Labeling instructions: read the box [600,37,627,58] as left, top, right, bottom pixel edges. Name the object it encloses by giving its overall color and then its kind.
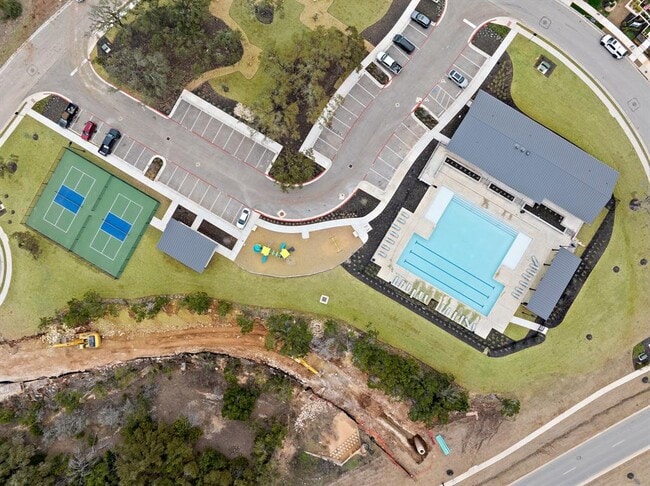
white car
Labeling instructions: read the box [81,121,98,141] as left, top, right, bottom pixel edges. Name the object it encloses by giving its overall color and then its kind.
red car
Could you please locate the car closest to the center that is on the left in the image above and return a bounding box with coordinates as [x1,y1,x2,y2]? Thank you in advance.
[236,207,252,230]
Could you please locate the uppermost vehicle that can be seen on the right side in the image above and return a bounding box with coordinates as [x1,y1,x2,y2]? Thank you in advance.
[409,11,431,30]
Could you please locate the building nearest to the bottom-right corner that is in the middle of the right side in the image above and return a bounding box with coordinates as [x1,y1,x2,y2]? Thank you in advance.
[526,246,581,320]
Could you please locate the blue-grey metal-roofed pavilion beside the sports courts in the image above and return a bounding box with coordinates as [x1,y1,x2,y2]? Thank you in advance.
[156,217,217,273]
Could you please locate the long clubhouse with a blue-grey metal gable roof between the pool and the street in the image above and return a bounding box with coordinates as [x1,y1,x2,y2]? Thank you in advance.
[446,89,620,225]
